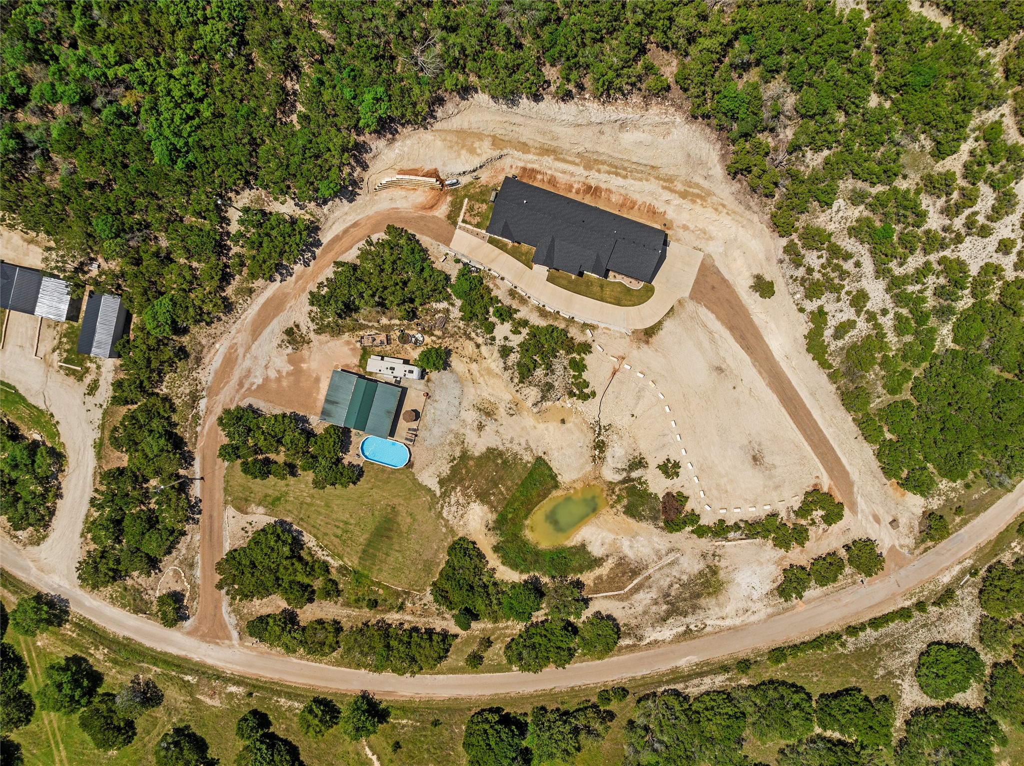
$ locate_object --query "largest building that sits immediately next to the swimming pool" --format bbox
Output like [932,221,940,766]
[320,370,402,440]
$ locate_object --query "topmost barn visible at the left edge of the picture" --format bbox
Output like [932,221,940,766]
[0,263,81,322]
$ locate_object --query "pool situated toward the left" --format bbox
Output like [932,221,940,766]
[360,436,410,468]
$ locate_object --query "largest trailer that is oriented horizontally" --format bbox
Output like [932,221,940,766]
[366,356,428,382]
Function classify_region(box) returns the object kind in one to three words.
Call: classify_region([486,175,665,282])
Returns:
house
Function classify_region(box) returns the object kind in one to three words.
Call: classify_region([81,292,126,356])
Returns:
shed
